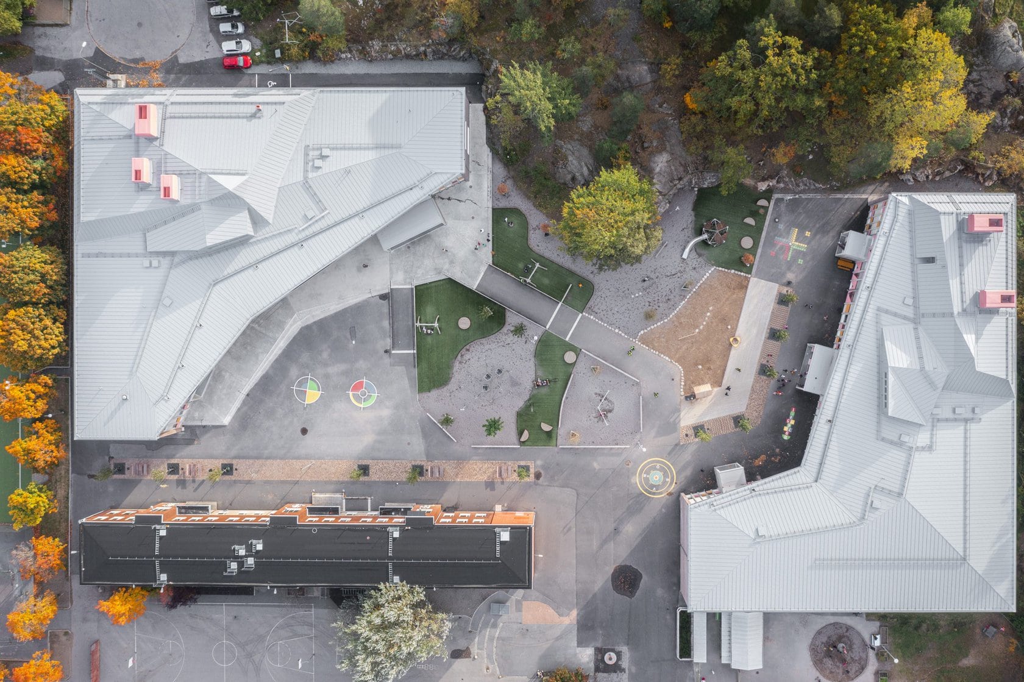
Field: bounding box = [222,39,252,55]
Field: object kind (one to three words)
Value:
car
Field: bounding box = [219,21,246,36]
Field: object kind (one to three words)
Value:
car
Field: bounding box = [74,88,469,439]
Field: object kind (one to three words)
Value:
building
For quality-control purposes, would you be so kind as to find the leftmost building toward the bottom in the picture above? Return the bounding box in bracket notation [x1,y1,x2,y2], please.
[79,492,535,589]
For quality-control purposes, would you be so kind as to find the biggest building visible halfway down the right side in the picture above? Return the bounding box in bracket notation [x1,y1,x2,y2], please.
[679,193,1016,618]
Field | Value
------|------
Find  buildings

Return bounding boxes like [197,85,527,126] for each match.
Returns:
[79,492,535,589]
[692,384,714,402]
[74,88,469,439]
[679,193,1016,618]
